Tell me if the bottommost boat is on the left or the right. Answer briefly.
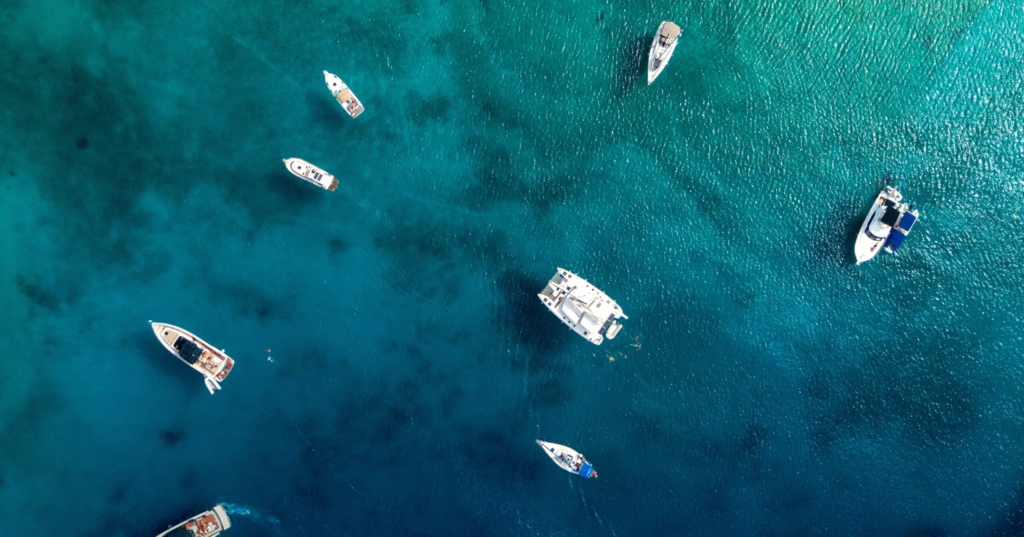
left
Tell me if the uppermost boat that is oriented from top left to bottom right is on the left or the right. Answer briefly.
left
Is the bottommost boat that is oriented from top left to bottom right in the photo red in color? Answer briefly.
No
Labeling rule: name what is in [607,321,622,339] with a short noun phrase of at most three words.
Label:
boat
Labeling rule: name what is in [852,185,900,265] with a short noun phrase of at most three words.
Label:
boat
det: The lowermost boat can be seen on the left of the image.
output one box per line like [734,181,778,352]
[158,504,231,537]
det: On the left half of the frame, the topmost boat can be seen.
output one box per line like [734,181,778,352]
[323,71,365,118]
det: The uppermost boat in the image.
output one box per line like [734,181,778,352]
[647,21,682,85]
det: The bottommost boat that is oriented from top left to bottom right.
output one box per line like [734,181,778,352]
[536,440,598,478]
